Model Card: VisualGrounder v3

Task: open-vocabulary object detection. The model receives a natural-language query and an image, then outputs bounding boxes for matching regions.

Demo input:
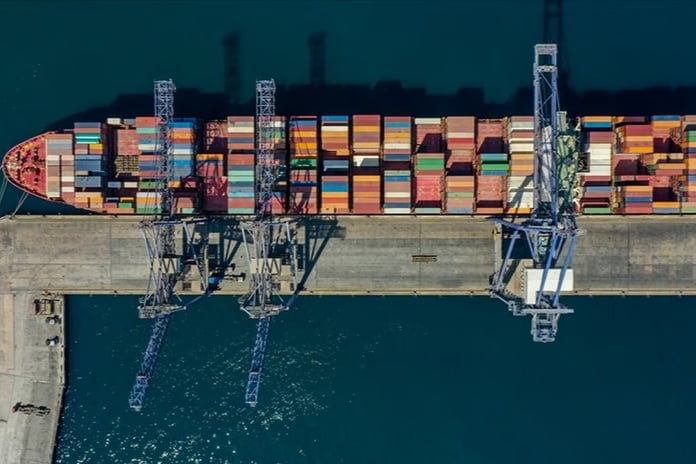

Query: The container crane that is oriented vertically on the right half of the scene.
[488,43,578,344]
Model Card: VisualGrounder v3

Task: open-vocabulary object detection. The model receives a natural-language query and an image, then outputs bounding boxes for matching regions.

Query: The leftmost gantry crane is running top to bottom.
[129,75,217,410]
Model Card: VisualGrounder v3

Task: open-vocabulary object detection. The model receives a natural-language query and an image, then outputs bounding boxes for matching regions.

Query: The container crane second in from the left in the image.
[237,75,301,410]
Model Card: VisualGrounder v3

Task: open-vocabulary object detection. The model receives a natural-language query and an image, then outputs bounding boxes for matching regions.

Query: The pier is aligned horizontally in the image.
[28,215,696,297]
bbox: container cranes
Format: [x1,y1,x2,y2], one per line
[129,75,217,410]
[488,43,578,344]
[237,75,301,410]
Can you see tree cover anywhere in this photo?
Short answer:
No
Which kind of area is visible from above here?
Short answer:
port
